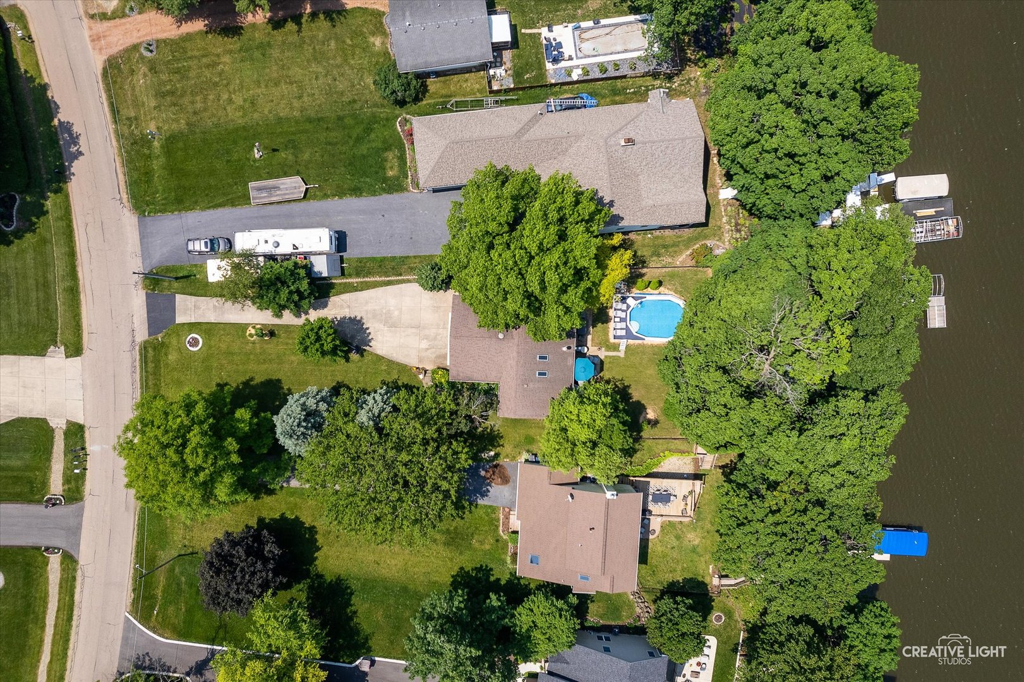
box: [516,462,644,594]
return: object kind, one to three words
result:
house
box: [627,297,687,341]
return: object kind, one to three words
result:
swimming pool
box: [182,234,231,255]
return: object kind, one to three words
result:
car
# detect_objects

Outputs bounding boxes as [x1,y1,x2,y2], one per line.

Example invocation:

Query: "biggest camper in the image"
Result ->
[233,220,348,252]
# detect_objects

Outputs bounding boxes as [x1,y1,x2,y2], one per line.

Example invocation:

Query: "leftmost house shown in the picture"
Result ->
[385,0,494,77]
